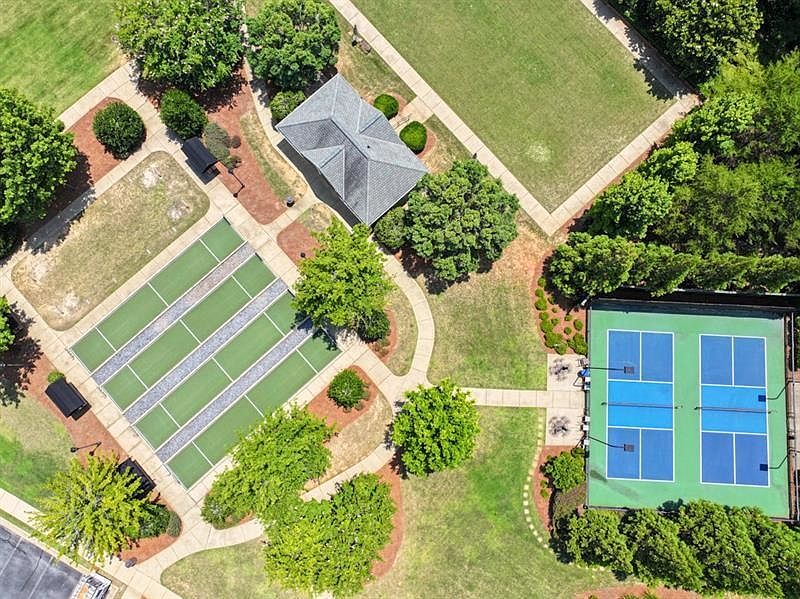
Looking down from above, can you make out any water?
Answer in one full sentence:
No, the picture contains no water.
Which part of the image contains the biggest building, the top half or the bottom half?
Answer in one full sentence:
The biggest building sits in the top half of the picture.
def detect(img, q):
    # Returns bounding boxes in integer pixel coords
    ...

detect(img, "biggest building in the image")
[275,73,430,229]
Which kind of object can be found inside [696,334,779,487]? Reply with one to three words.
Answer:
sports court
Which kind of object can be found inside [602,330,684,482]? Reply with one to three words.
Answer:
sports court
